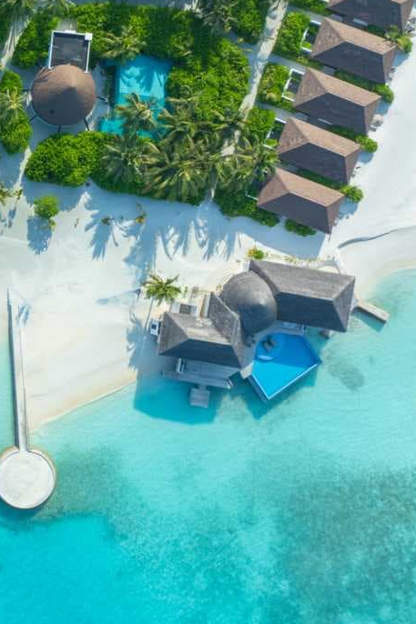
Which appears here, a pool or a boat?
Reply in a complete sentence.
There is a pool in the scene.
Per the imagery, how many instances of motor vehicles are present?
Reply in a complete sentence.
The photo contains no motor vehicles.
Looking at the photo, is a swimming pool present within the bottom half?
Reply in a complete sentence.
No, no swimming pool is visible within the bottom half.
